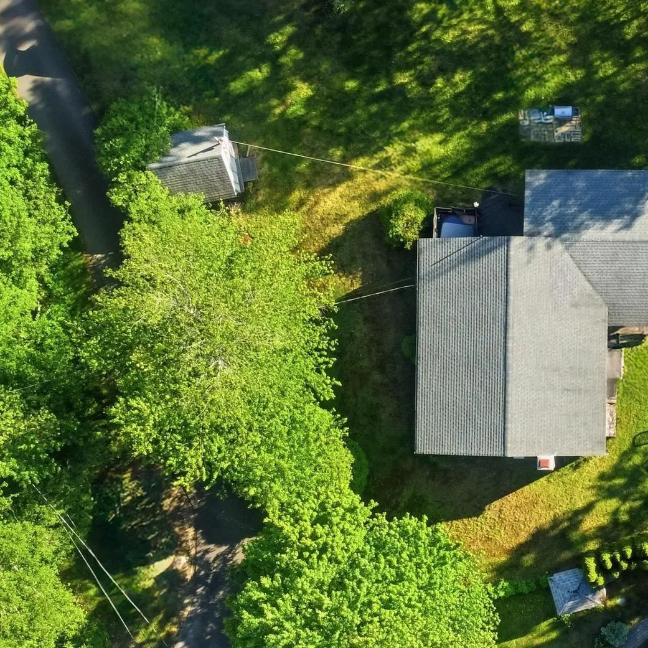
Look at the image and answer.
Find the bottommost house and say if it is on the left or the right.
right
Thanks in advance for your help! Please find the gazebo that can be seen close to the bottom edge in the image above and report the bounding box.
[546,552,607,621]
